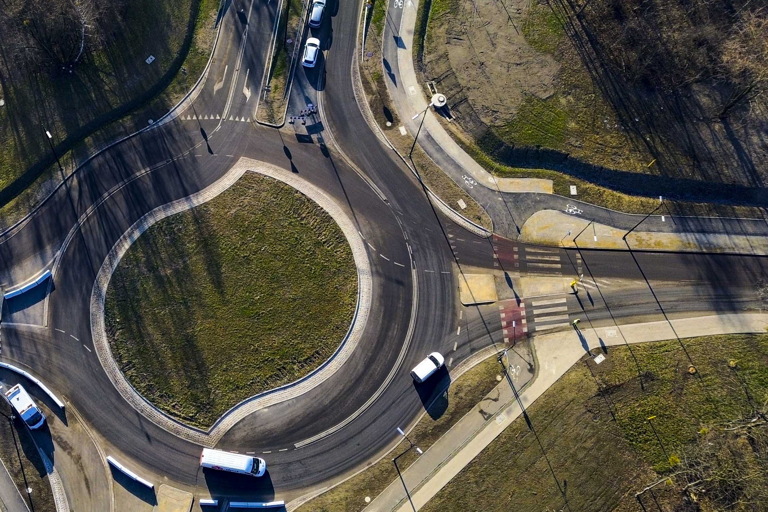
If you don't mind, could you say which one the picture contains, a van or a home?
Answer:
van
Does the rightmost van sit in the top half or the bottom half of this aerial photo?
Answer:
bottom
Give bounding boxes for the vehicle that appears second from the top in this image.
[302,37,321,70]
